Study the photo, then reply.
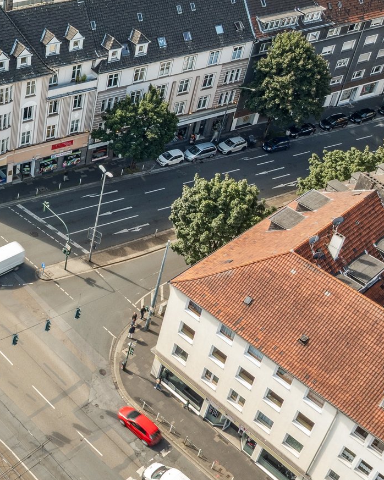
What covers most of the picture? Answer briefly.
buildings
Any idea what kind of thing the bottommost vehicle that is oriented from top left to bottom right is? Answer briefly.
automobile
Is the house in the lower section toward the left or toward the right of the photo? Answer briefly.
right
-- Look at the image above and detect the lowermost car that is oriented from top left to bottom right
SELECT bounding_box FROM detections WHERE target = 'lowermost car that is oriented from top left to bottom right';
[109,404,171,455]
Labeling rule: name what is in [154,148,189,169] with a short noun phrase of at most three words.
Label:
car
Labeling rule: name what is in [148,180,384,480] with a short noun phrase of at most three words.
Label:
house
